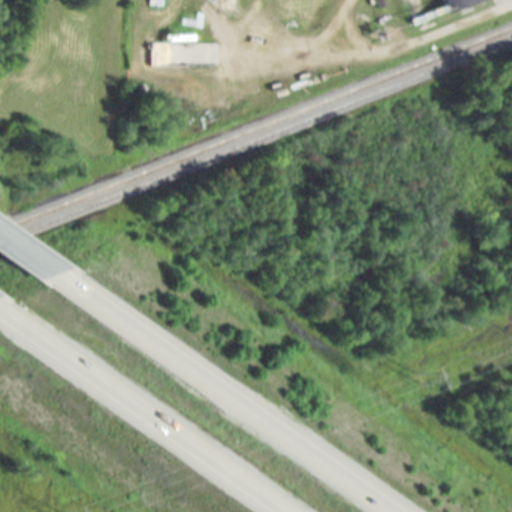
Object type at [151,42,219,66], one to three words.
barn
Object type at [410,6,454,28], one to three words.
house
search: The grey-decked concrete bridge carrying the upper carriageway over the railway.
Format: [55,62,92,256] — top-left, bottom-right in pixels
[0,212,84,285]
